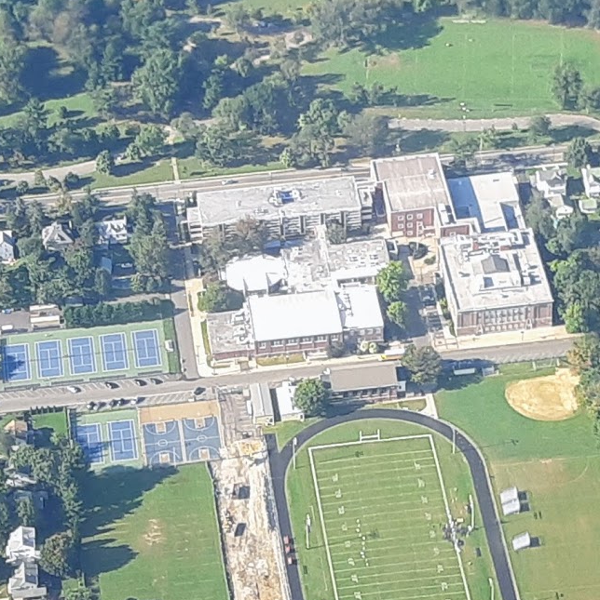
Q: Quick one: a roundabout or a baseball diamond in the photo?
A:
baseball diamond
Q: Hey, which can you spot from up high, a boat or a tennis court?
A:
tennis court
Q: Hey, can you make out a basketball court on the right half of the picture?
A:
No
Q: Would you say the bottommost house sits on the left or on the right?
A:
left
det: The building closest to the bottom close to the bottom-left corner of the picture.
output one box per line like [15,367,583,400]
[11,562,46,600]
